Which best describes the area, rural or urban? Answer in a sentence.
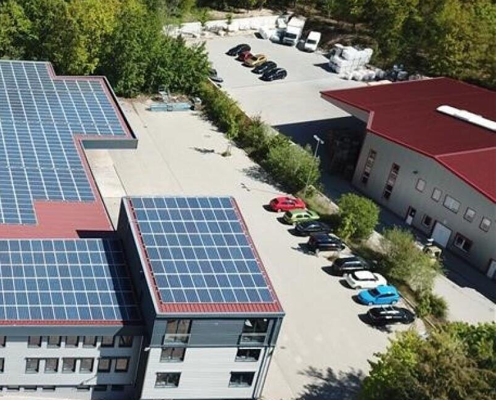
It looks urban.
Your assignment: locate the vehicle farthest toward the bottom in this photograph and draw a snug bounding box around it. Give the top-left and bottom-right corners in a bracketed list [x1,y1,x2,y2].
[361,305,418,327]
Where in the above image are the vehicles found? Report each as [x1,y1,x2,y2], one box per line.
[227,44,249,57]
[341,271,387,291]
[361,305,418,327]
[355,286,403,307]
[268,196,307,214]
[244,55,266,68]
[302,29,320,54]
[291,219,332,237]
[302,233,349,253]
[236,50,255,63]
[252,62,276,76]
[262,69,287,83]
[284,10,304,46]
[326,255,376,275]
[282,208,318,225]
